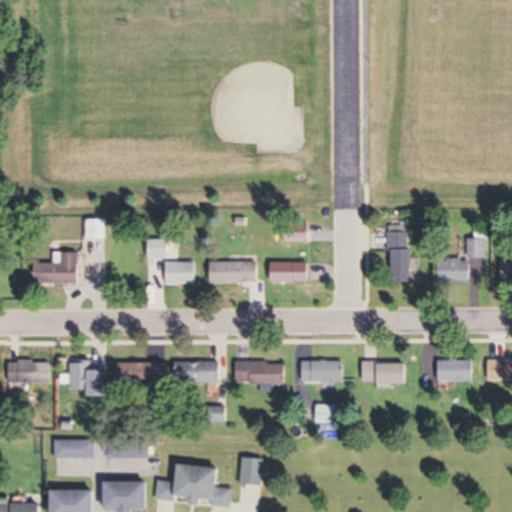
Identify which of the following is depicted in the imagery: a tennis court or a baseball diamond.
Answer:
baseball diamond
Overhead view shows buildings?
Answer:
Yes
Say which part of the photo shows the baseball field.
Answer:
top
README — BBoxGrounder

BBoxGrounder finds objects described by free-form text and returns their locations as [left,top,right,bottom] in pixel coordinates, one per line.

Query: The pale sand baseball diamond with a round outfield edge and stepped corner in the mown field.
[212,61,306,154]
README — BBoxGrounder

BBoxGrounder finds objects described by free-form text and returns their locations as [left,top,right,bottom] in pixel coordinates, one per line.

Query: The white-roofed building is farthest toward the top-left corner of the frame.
[84,218,106,240]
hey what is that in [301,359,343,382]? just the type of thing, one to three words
house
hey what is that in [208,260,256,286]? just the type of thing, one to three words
house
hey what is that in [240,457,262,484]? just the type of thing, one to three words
building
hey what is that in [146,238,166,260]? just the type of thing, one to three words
building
